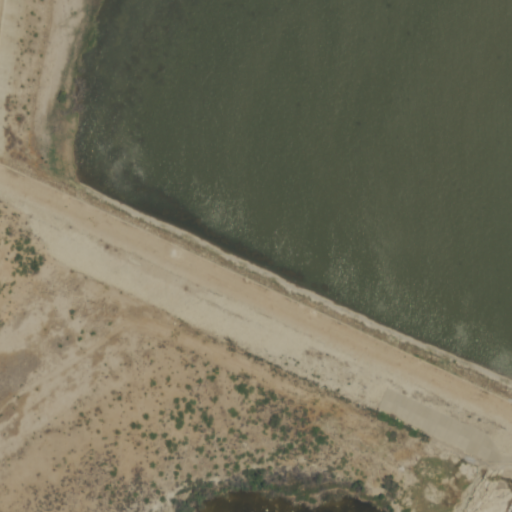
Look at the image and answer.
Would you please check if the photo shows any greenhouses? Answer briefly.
No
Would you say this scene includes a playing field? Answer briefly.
No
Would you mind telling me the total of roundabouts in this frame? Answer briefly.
zero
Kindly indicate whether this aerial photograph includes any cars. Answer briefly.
No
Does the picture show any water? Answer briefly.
Yes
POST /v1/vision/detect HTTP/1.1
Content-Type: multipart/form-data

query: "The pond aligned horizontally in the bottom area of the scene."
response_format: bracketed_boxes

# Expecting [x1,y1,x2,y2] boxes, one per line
[199,490,381,512]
